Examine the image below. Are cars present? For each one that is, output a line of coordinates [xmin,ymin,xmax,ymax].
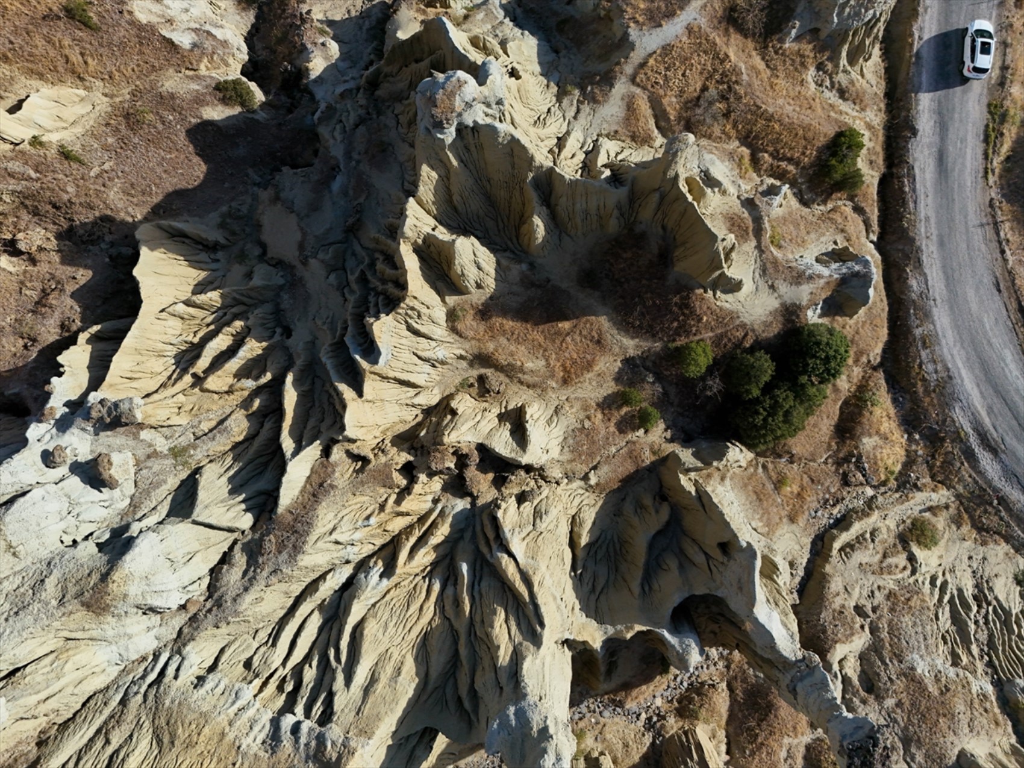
[958,16,998,78]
